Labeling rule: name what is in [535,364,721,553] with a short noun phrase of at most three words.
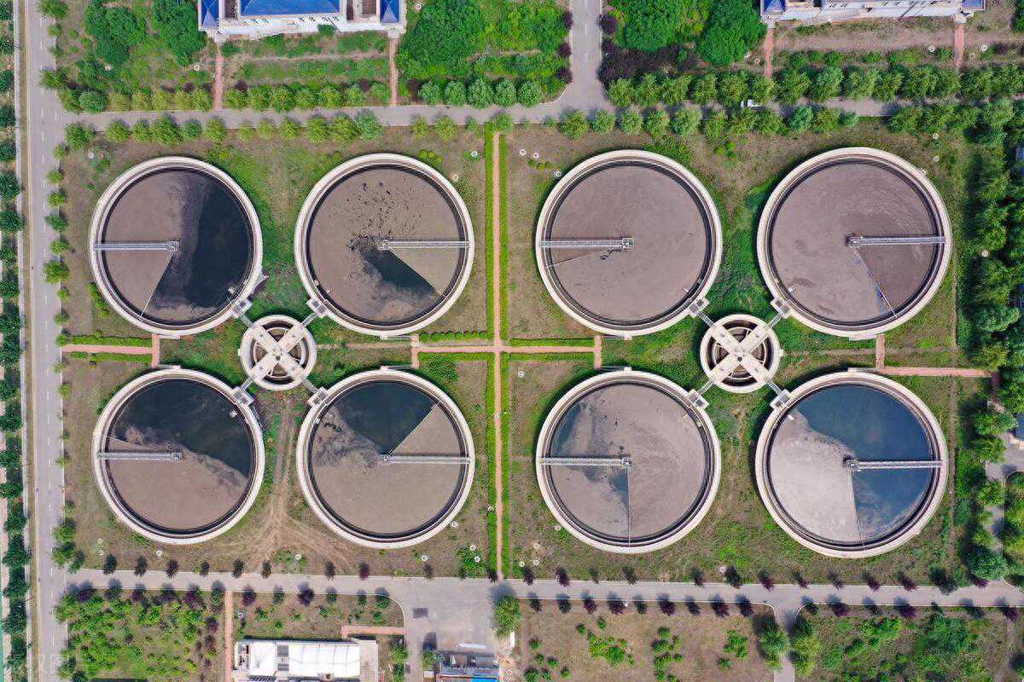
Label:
storage tank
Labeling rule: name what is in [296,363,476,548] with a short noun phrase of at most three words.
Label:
storage tank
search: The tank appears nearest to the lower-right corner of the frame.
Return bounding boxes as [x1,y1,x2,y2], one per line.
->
[751,365,947,558]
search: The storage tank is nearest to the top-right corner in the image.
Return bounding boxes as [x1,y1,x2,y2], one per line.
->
[753,148,952,343]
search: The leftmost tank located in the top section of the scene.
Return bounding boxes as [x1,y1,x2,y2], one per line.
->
[88,156,268,341]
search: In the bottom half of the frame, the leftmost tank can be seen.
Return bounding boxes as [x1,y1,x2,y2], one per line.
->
[92,362,270,544]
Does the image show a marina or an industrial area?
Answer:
industrial area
